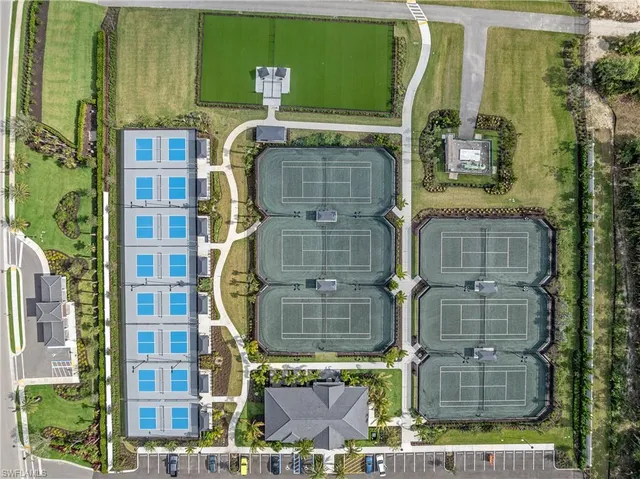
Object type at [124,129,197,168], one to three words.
sports court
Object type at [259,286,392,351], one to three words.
tennis court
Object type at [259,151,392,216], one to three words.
tennis court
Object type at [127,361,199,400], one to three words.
sports court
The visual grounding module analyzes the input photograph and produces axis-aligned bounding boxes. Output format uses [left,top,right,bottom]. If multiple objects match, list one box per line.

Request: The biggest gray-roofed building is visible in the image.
[264,378,369,454]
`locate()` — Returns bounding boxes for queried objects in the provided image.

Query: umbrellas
[258,67,269,84]
[276,68,286,84]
